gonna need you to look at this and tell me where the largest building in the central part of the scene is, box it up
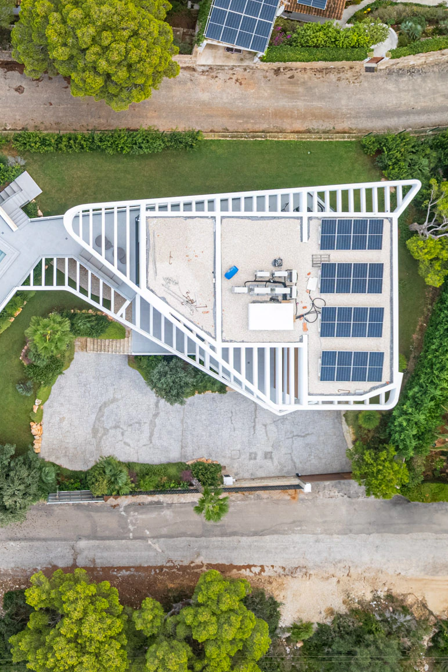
[15,180,421,415]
